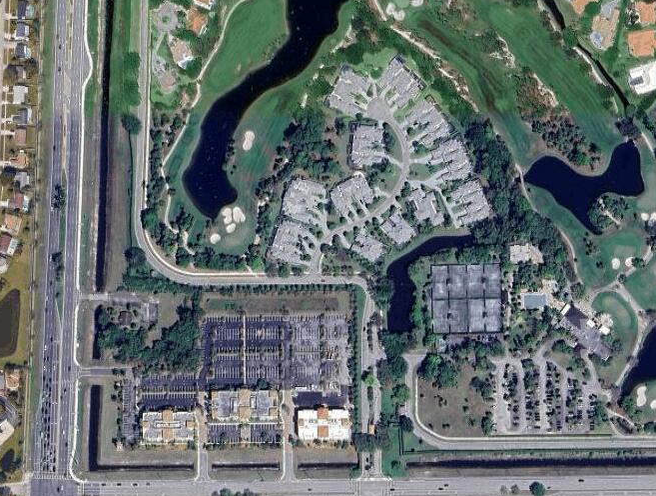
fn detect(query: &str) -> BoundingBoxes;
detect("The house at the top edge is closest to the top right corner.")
[635,0,656,23]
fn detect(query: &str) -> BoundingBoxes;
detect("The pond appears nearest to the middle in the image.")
[389,233,473,332]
